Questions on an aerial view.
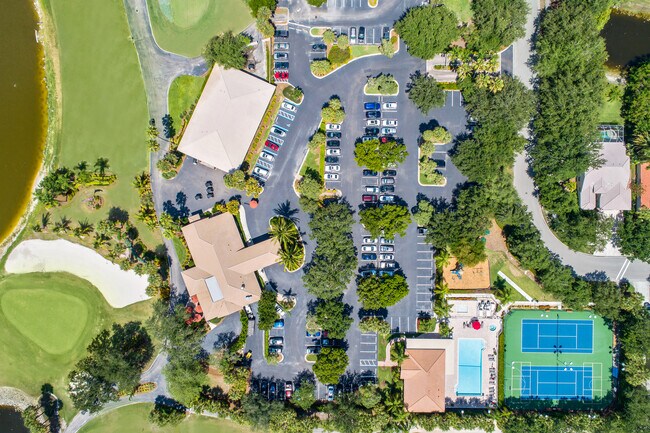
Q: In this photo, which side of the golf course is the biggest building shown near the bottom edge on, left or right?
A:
to its right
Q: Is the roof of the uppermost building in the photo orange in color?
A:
No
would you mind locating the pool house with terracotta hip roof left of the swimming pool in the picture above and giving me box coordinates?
[400,348,445,412]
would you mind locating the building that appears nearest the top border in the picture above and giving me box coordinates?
[180,65,275,172]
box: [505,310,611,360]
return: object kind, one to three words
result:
tennis court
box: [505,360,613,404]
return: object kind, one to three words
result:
tennis court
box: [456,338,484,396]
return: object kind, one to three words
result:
swimming pool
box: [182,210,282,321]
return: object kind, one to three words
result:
building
